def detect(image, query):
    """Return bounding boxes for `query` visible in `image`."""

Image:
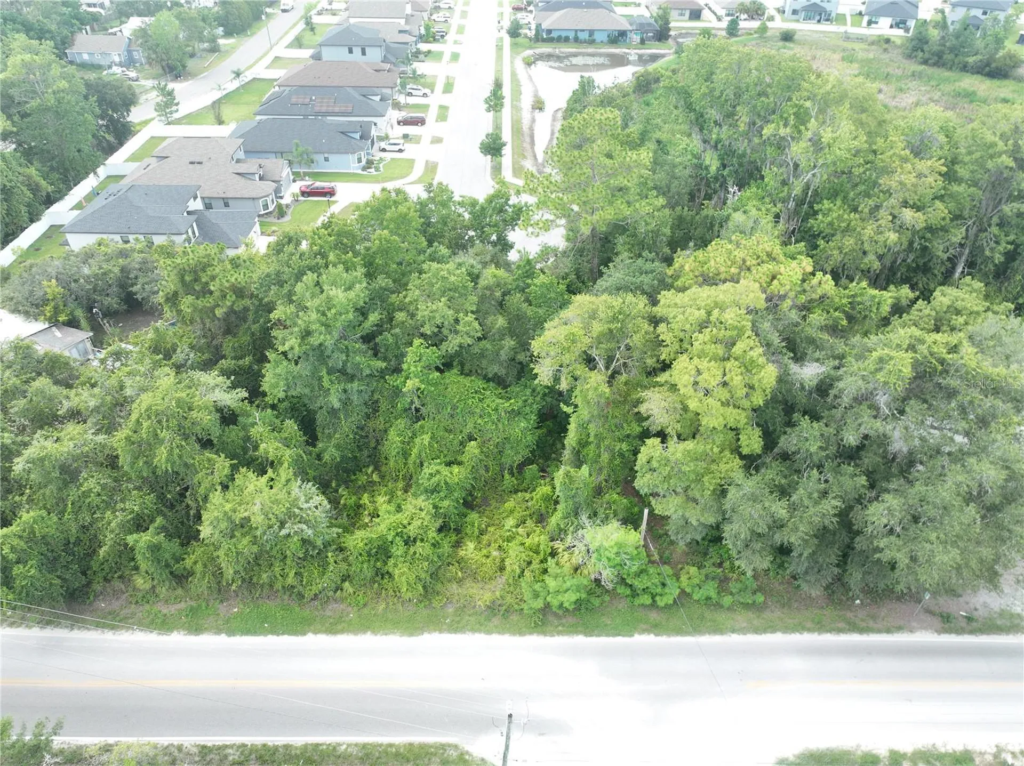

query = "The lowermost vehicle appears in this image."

[300,183,337,200]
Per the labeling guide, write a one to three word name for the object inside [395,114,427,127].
vehicle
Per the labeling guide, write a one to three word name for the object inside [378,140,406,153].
vehicle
